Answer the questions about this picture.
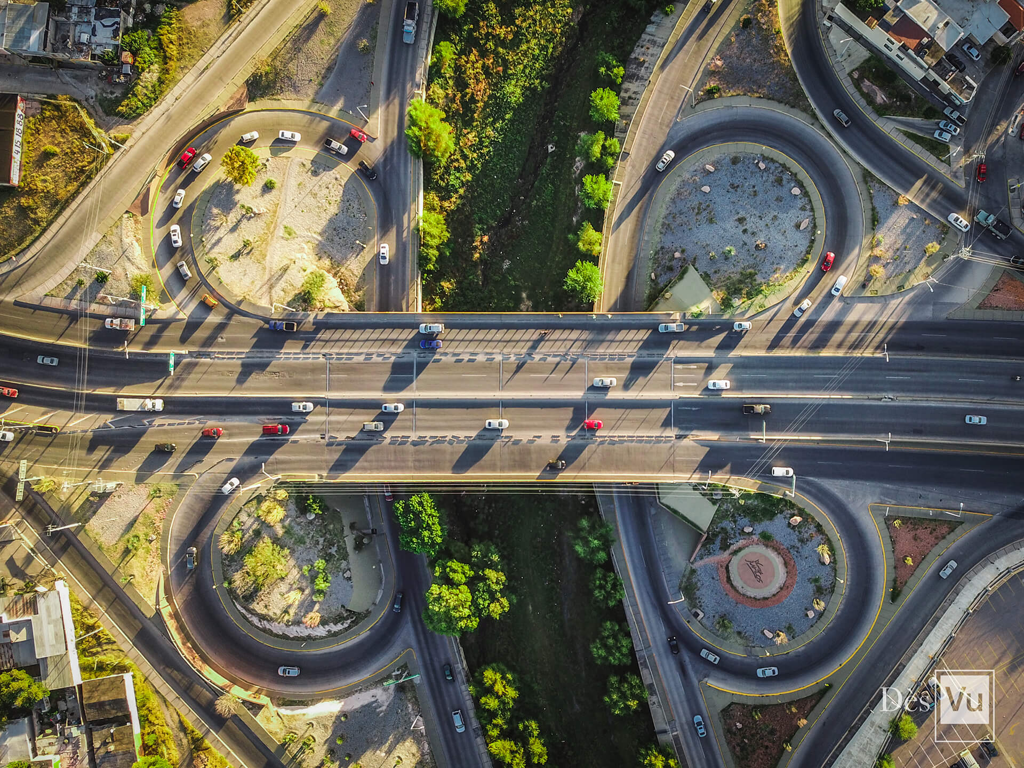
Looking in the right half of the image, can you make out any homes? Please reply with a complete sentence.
Yes, the scene does show a home in the right half of the image.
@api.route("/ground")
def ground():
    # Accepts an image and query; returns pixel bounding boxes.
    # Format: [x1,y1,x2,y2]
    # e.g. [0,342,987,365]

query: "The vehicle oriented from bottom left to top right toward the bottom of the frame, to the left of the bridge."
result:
[220,475,240,495]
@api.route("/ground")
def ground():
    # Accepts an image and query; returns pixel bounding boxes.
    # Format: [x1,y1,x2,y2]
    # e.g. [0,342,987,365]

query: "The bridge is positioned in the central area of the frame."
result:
[280,312,760,493]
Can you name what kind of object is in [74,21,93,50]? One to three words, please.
house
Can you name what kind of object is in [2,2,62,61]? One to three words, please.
shed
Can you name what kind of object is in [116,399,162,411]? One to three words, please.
vehicle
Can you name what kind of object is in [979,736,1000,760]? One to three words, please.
car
